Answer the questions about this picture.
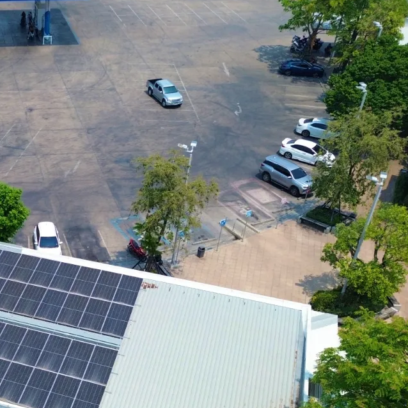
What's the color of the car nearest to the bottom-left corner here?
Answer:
white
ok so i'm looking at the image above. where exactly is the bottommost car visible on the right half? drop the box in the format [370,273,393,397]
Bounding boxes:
[259,155,320,195]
